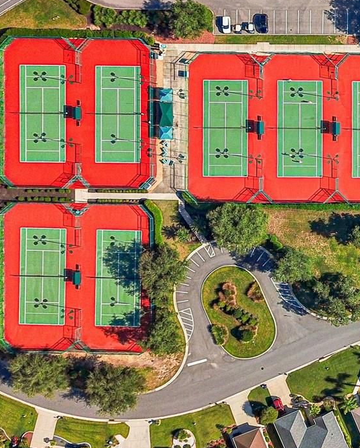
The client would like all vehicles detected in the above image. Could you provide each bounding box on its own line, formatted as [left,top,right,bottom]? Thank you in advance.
[258,13,268,32]
[248,21,255,31]
[272,393,285,414]
[236,23,243,33]
[222,15,232,34]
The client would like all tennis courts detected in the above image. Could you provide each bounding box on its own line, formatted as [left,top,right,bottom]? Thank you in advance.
[188,54,261,202]
[77,204,152,353]
[77,38,157,187]
[4,204,79,353]
[261,54,337,202]
[337,54,360,202]
[4,38,79,187]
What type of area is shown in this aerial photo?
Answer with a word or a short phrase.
sports ground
